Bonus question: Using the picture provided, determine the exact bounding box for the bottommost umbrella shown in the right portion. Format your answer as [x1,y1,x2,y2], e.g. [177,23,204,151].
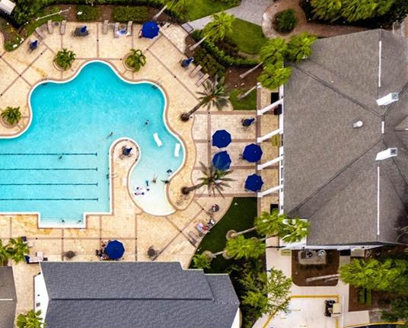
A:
[243,174,263,193]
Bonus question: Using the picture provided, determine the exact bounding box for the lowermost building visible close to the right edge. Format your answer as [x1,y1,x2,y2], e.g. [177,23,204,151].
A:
[257,29,408,248]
